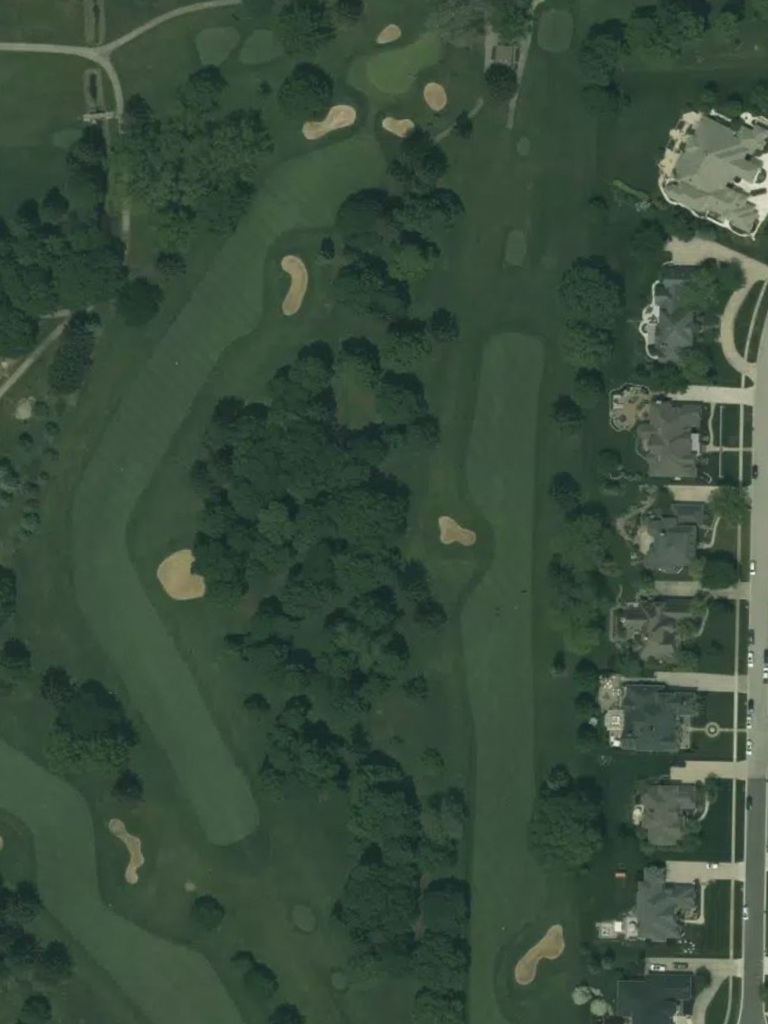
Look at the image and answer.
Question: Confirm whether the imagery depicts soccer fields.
No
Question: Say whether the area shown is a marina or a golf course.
golf course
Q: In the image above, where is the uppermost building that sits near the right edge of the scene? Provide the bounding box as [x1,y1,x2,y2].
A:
[664,117,768,230]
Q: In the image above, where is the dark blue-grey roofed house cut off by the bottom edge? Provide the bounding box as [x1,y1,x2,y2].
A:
[618,975,693,1024]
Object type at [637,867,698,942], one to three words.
house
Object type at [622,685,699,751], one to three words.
house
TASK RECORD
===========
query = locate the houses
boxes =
[637,867,698,942]
[618,975,693,1024]
[648,503,706,572]
[653,265,701,362]
[664,117,768,230]
[622,685,699,751]
[641,784,697,847]
[636,400,702,477]
[620,595,697,662]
